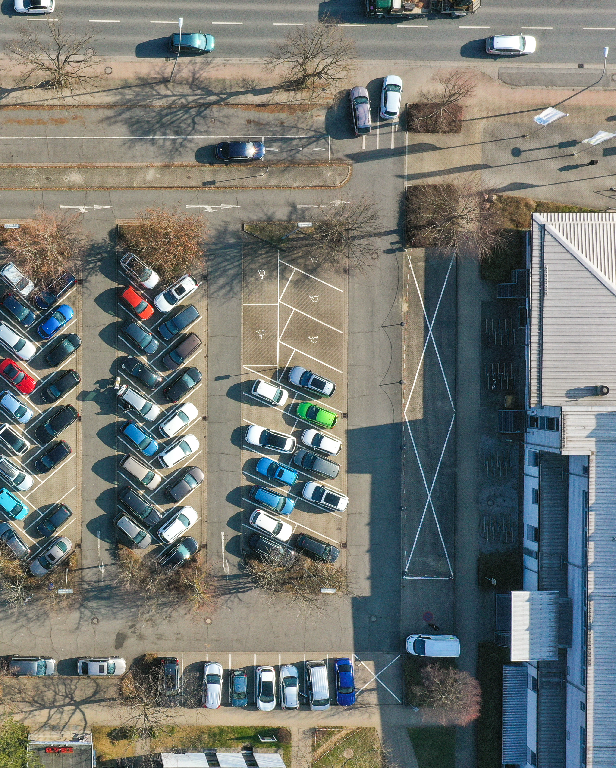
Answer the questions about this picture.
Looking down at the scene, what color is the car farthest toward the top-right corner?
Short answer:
white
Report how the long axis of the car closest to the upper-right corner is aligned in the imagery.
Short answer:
horizontally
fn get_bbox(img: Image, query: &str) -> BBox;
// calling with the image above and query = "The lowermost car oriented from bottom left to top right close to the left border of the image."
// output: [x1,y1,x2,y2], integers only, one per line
[29,536,72,576]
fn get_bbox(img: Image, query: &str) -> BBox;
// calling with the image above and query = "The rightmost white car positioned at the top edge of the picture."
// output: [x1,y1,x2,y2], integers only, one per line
[484,32,536,56]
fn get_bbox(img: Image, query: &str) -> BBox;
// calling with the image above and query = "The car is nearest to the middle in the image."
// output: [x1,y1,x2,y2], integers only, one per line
[286,364,338,399]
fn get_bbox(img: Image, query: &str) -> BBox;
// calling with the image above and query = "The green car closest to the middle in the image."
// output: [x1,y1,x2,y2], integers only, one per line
[296,401,338,430]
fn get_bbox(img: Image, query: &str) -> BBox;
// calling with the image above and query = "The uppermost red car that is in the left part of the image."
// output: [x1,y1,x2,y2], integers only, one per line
[119,285,153,320]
